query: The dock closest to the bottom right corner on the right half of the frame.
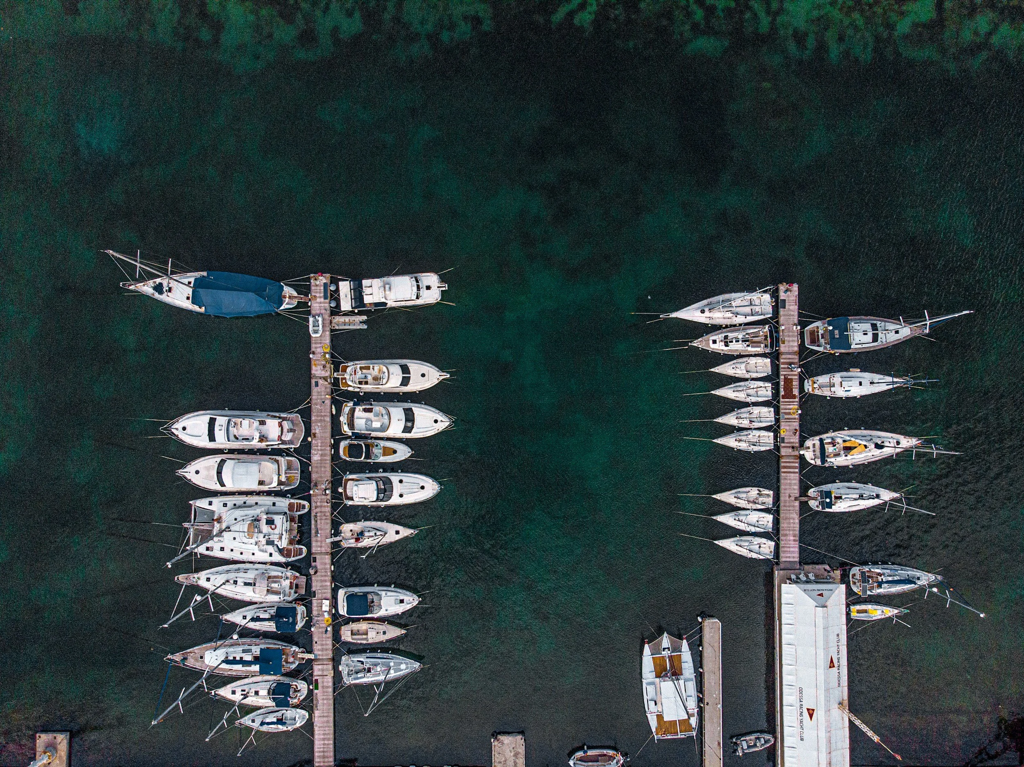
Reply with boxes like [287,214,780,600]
[701,618,722,767]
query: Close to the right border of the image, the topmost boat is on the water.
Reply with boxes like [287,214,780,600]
[800,310,974,353]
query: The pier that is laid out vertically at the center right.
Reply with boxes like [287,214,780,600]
[778,285,799,560]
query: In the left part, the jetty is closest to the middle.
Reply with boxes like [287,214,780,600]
[331,316,368,329]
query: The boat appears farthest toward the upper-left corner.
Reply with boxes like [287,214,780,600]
[98,250,301,318]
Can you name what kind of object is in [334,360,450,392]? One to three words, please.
boat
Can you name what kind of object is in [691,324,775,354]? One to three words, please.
boat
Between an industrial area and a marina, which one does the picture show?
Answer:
marina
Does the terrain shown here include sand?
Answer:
No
